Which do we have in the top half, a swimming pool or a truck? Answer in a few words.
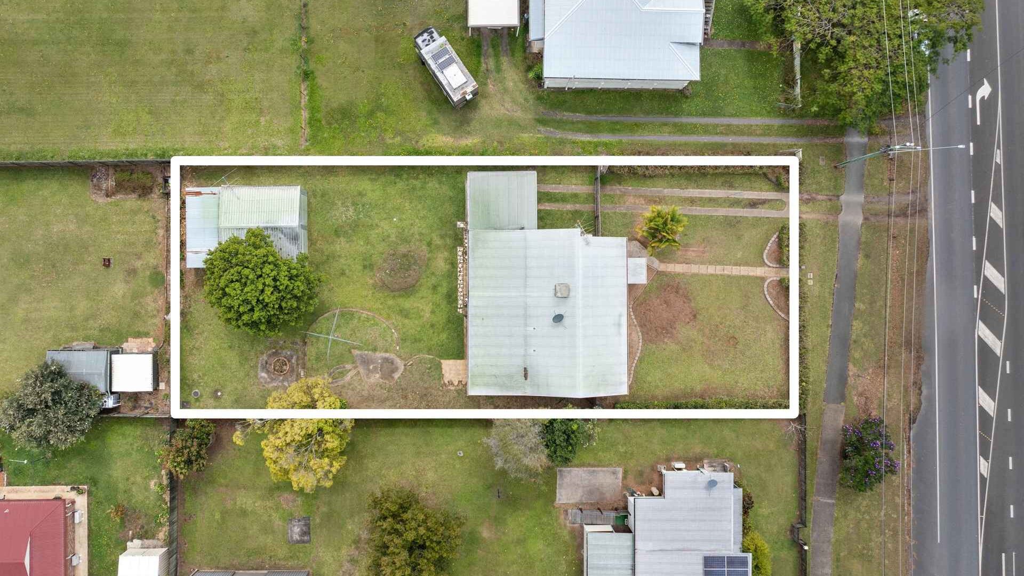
truck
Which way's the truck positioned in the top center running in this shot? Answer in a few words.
diagonally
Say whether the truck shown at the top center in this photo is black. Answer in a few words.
No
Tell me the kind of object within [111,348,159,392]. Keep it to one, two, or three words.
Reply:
shed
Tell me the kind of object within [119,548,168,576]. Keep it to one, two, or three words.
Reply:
shed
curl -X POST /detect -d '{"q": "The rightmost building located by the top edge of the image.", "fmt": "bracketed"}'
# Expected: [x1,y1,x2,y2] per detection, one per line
[542,0,705,93]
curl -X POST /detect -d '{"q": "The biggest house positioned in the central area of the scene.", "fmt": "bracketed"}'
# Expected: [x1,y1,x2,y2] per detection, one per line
[466,228,630,398]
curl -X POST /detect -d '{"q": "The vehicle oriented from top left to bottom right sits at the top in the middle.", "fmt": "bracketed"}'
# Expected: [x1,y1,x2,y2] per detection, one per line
[413,26,481,111]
